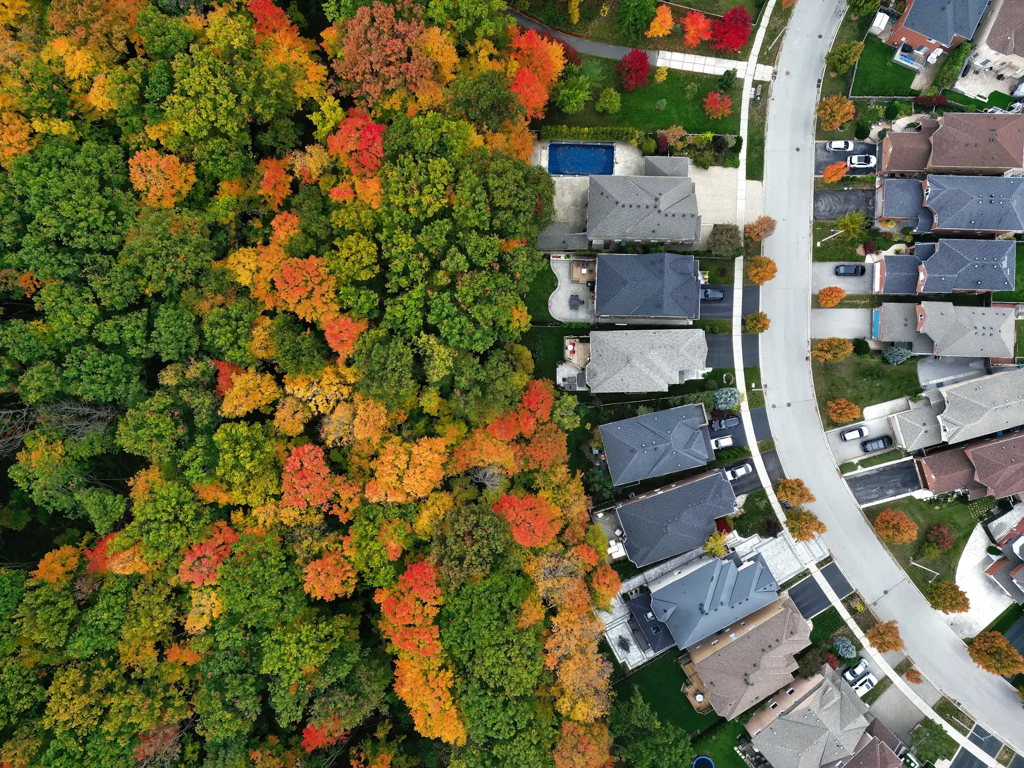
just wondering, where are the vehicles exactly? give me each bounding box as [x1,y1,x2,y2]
[846,154,877,169]
[851,671,880,698]
[710,414,742,431]
[825,138,853,153]
[840,657,872,681]
[834,262,866,276]
[701,286,728,301]
[859,435,892,453]
[726,462,753,481]
[711,434,737,449]
[838,426,867,442]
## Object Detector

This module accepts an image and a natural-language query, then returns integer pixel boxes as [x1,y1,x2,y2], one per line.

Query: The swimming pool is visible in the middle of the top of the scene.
[546,140,616,177]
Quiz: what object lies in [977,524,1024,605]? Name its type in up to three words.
house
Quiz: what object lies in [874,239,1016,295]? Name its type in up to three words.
house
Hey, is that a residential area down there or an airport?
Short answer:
residential area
